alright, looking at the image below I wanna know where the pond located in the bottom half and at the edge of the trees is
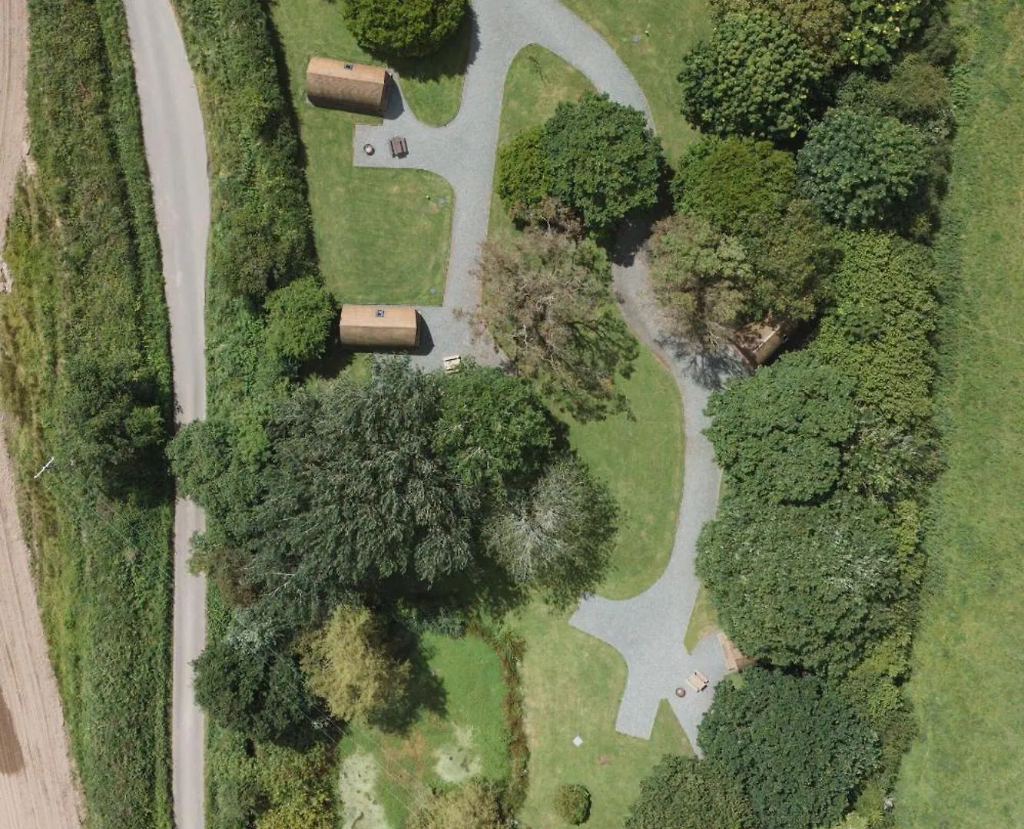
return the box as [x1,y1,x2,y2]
[333,635,512,829]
